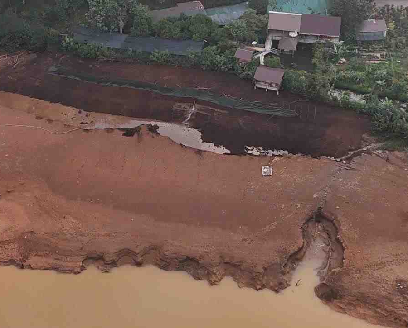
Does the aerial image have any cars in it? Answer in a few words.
No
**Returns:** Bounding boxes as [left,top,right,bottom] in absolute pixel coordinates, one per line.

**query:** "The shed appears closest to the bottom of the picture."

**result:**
[254,66,284,102]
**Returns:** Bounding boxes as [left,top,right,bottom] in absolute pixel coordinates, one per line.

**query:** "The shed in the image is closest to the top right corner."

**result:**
[356,19,386,45]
